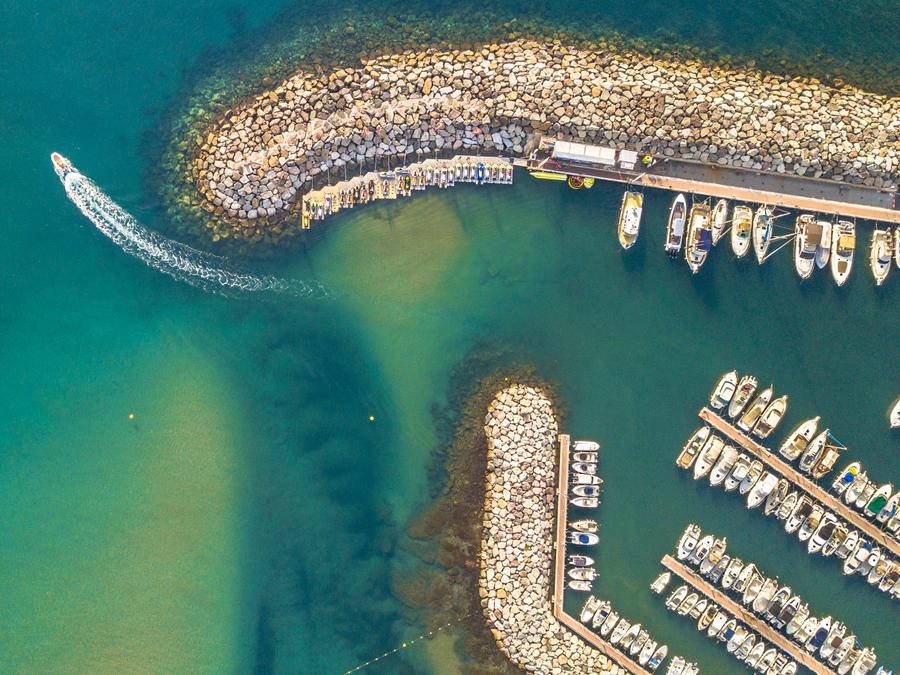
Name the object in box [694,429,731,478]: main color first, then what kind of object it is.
white boat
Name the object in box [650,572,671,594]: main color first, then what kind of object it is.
white boat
